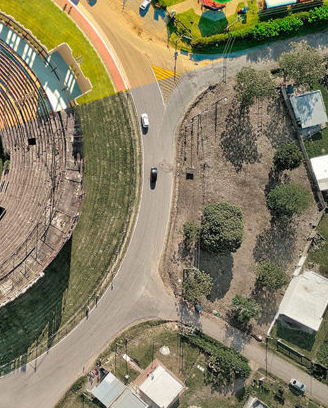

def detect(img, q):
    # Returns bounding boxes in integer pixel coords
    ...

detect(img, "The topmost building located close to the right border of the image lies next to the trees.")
[286,90,328,129]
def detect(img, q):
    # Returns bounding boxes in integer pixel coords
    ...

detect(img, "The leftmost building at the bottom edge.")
[91,372,128,407]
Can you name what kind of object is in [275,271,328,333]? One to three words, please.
house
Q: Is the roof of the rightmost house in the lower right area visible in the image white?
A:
Yes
